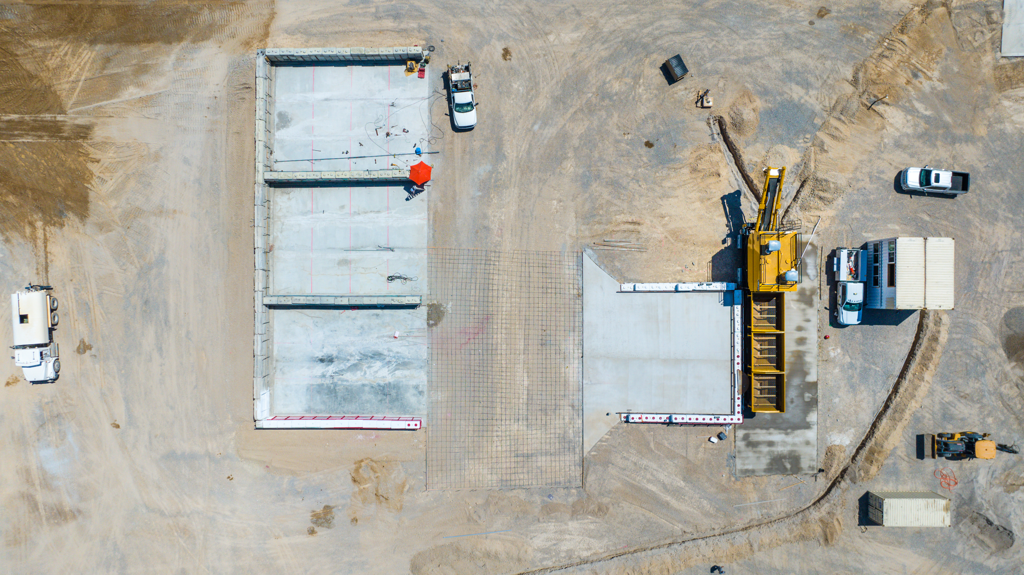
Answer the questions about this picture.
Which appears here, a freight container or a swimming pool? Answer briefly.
freight container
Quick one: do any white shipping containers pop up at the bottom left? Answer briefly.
No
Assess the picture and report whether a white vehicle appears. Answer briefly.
Yes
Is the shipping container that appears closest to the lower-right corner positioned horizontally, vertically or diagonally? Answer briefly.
horizontally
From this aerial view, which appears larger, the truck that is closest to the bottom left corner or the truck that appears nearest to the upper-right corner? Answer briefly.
the truck that is closest to the bottom left corner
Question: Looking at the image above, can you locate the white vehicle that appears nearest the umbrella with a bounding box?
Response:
[448,56,479,130]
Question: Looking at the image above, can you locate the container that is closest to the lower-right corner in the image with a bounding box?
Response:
[868,490,951,527]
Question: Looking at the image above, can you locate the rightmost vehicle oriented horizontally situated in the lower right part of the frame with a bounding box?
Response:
[927,431,1015,460]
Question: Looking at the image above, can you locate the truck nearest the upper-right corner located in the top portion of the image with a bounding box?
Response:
[897,162,972,194]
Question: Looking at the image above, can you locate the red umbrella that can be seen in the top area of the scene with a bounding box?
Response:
[409,161,432,185]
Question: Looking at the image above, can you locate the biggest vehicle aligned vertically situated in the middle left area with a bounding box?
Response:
[11,281,62,384]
